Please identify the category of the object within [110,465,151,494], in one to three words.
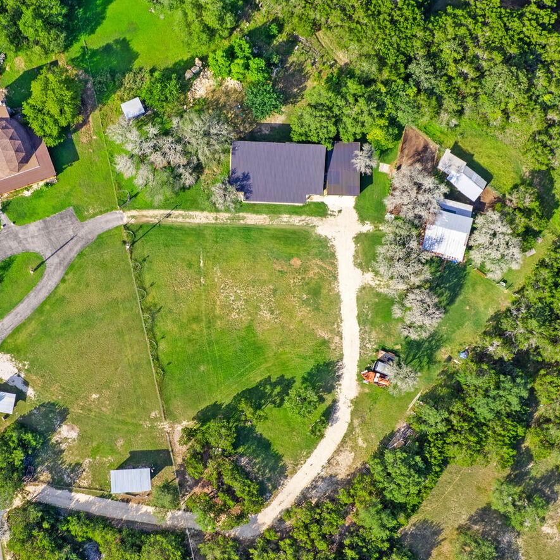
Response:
shed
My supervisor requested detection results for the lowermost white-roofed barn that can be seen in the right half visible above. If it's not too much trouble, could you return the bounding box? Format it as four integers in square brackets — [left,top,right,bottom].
[418,199,473,262]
